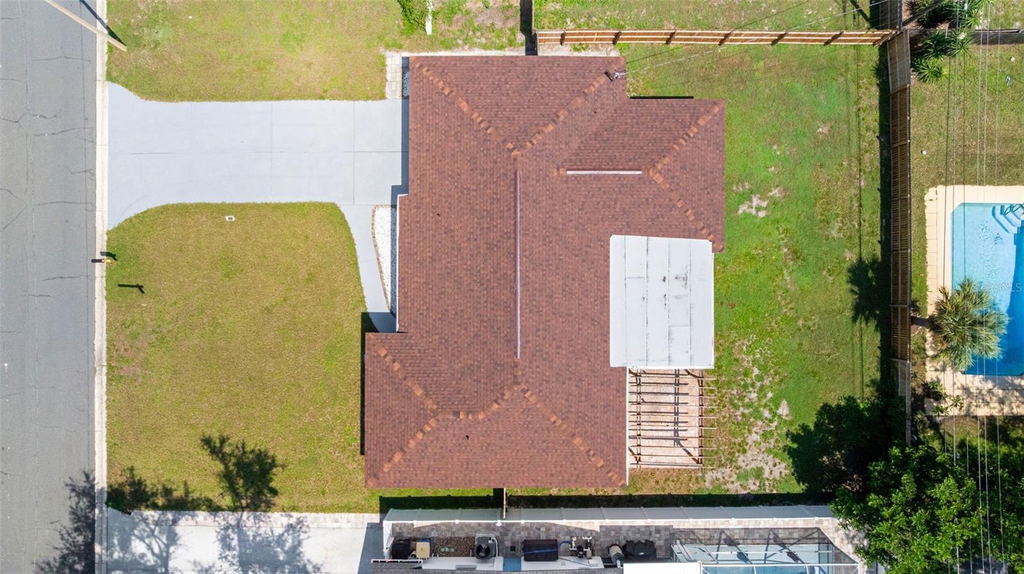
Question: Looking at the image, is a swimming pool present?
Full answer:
Yes, there's a swimming pool here.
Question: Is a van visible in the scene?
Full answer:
No, there isn't any van down there.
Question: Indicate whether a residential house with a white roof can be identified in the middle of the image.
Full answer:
No, I can find no residential house with a white roof in the middle of the image.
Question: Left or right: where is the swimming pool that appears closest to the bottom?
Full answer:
You can find the swimming pool that appears closest to the bottom on the right side of the picture.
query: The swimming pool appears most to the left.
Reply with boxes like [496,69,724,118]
[676,543,838,574]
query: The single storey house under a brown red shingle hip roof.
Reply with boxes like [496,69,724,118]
[364,55,726,489]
